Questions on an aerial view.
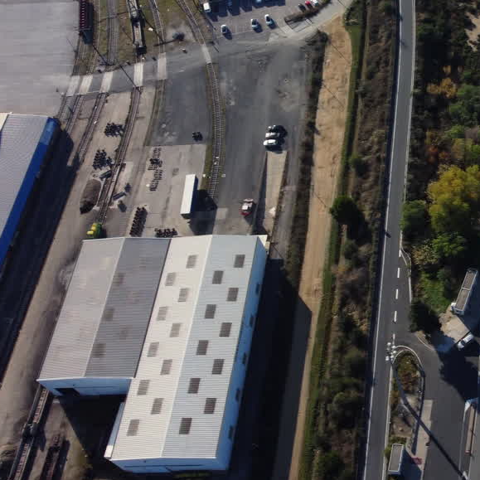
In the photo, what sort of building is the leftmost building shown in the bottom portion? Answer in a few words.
warehouse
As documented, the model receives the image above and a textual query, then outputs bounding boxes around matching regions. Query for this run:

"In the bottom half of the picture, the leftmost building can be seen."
[35,234,170,395]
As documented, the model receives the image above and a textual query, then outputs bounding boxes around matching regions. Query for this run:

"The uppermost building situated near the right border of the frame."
[454,269,478,319]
